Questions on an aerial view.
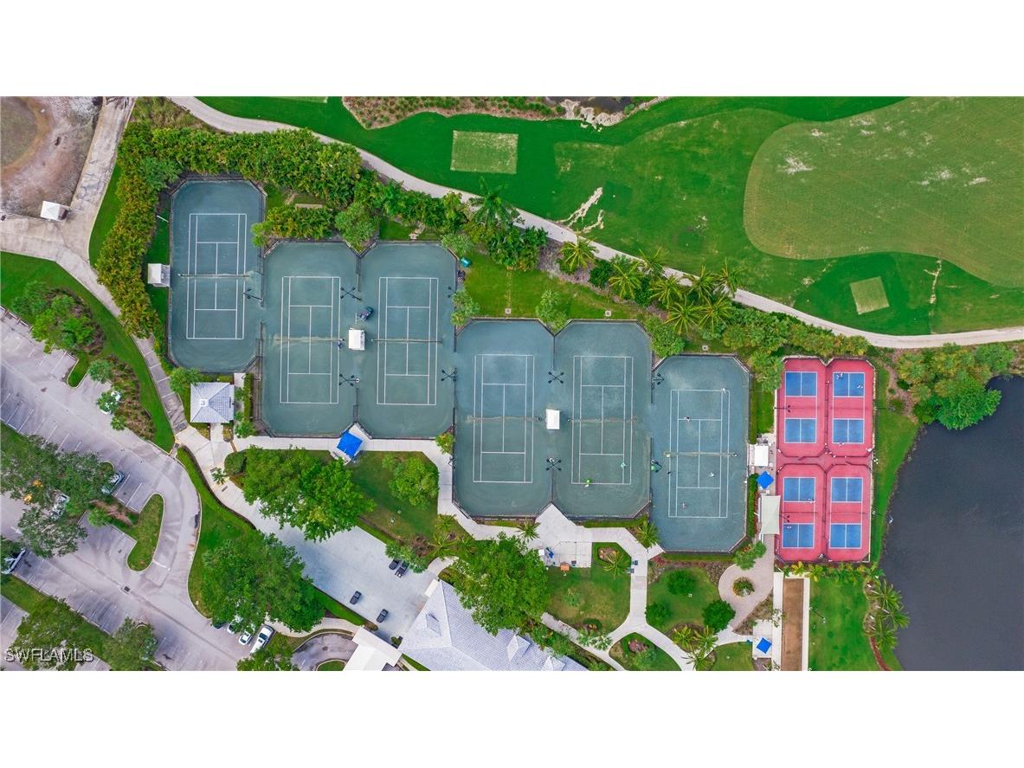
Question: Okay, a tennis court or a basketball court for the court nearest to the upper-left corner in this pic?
tennis court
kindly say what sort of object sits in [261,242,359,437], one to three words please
tennis court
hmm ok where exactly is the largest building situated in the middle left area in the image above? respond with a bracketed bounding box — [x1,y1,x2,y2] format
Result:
[190,382,236,423]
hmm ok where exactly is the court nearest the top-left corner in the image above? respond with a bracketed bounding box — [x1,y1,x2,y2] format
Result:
[170,180,265,372]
